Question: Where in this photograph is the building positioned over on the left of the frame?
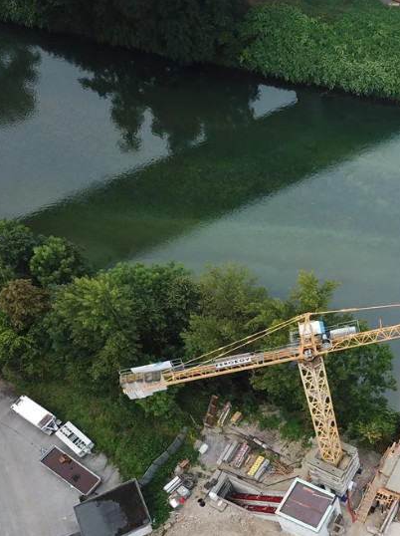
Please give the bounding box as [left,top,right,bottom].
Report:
[73,479,161,536]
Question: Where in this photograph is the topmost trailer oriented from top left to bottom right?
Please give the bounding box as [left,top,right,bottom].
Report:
[7,391,60,431]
